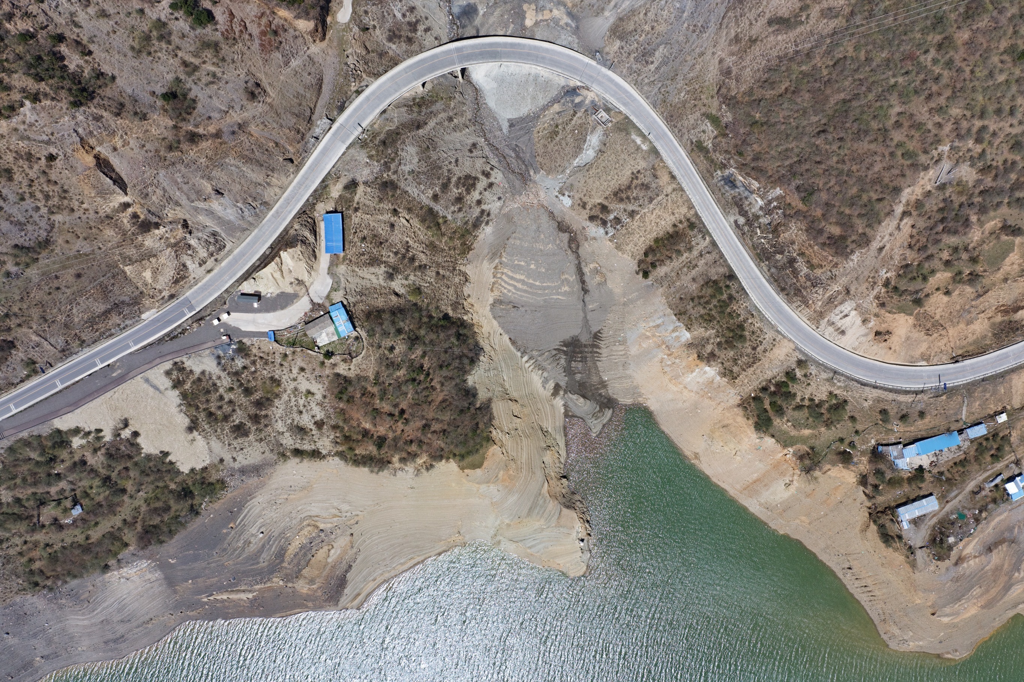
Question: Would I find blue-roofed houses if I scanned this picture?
Yes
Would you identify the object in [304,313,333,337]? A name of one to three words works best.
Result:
house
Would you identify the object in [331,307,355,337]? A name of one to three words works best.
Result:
house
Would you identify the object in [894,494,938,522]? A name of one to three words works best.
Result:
barn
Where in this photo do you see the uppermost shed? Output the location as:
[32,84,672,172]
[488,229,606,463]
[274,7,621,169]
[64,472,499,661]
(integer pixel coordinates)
[323,213,345,254]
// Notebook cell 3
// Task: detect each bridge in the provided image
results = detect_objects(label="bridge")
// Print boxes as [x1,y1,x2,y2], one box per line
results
[328,35,613,144]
